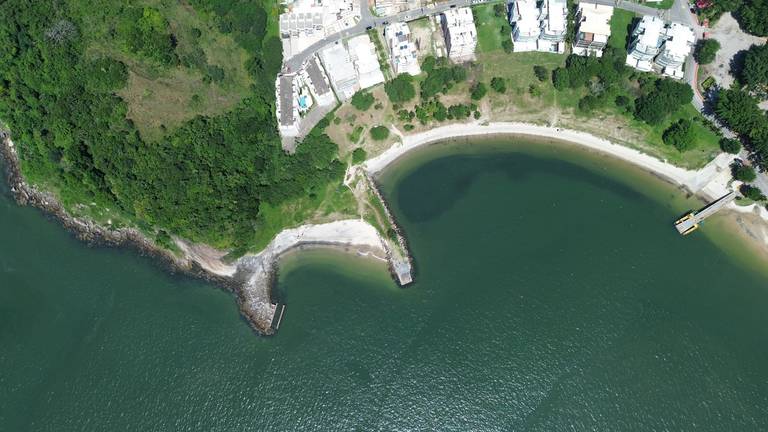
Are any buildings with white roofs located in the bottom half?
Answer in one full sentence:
No, no building with a white roof can be made out in the bottom half.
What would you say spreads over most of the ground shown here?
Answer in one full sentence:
What you mostly see from above here is water.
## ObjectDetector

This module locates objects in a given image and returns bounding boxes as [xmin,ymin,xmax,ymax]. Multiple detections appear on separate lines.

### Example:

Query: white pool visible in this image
[298,94,312,110]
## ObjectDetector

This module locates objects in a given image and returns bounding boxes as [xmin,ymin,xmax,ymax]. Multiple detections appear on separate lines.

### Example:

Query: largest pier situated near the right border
[674,190,736,234]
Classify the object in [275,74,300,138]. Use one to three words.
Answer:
building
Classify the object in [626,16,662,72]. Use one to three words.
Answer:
house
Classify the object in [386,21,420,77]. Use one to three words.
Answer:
house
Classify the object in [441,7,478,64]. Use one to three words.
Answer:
building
